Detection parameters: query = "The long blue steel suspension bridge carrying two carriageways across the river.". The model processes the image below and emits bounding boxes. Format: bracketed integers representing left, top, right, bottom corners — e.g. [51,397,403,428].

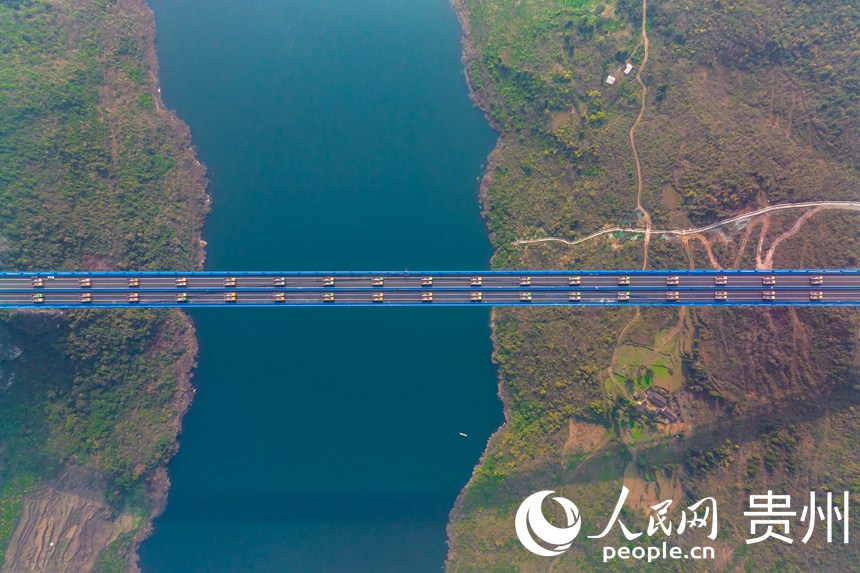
[0,267,860,310]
